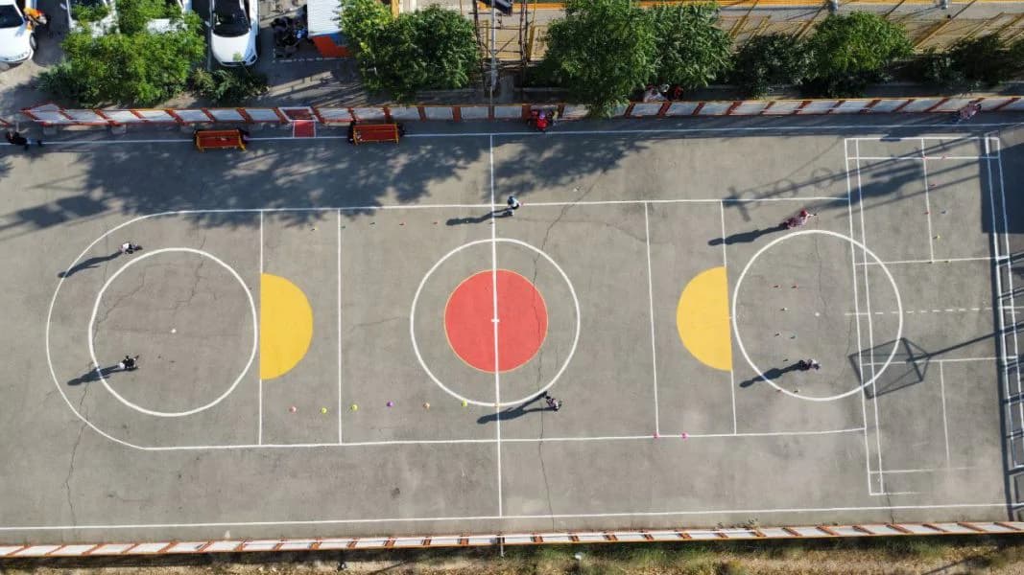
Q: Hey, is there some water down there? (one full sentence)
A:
No, there is no water in the image.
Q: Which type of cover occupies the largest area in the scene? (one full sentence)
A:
Most of the picture is covered by paved ground.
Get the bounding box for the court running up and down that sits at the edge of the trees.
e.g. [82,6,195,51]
[845,136,1024,496]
